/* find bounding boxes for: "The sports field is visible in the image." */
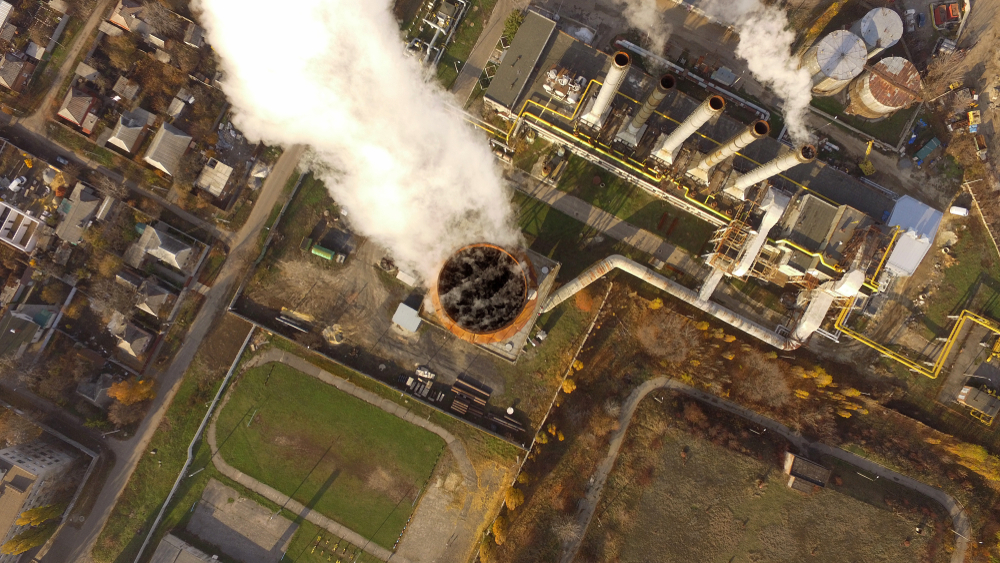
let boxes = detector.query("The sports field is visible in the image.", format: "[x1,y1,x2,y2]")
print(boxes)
[219,360,443,545]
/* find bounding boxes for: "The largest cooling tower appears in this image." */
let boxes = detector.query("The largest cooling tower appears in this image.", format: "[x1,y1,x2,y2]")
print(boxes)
[417,219,561,361]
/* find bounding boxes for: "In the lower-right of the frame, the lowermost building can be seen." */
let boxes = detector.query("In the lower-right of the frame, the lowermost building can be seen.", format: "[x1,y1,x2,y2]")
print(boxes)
[784,451,831,491]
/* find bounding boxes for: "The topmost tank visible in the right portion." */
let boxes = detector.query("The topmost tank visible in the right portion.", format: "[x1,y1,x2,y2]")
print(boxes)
[847,7,904,62]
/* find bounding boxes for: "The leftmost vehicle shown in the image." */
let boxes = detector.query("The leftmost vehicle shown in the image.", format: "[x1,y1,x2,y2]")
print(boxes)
[7,176,24,190]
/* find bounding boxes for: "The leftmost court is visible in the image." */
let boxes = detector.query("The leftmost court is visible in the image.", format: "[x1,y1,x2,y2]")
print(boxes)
[184,478,299,563]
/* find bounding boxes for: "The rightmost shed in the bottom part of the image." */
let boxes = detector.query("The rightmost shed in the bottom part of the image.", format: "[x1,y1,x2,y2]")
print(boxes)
[955,386,1000,425]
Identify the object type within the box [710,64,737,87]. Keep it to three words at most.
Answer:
shed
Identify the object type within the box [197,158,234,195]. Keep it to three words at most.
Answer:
house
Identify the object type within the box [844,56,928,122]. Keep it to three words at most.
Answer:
storage tank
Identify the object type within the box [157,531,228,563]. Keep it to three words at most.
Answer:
building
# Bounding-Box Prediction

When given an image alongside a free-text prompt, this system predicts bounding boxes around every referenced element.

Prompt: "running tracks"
[210,351,478,560]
